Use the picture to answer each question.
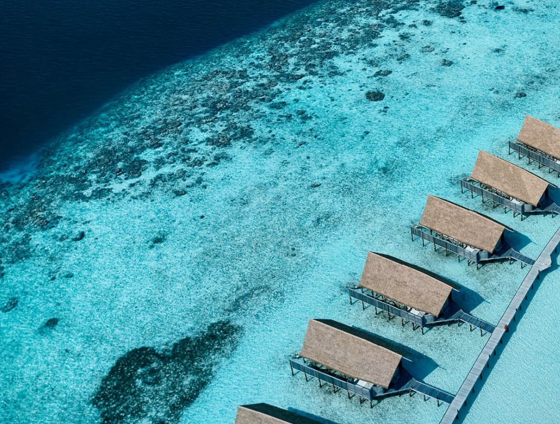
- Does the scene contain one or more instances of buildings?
Yes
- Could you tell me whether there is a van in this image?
No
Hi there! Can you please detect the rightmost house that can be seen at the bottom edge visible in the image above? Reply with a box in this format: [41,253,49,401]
[286,318,415,413]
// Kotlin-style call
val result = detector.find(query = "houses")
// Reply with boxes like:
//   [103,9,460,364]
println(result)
[286,318,415,413]
[506,115,560,181]
[233,404,314,424]
[345,251,462,339]
[459,150,557,225]
[407,194,514,274]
